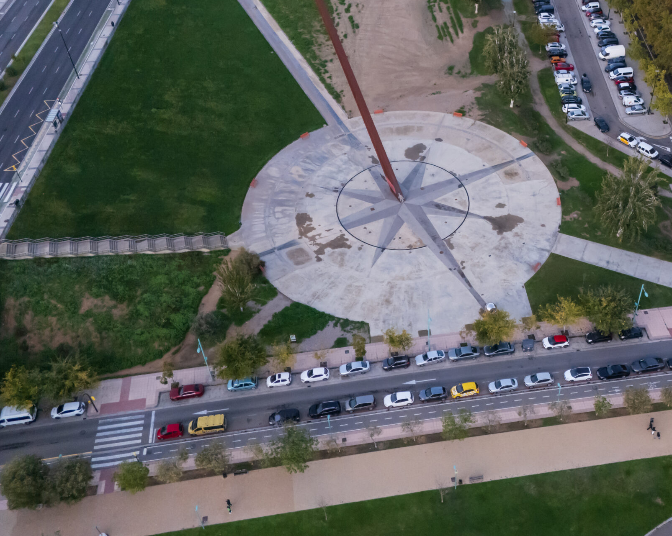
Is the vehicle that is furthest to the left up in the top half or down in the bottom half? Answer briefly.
bottom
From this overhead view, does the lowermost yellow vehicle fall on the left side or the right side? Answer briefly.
left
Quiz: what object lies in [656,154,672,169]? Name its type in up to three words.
car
